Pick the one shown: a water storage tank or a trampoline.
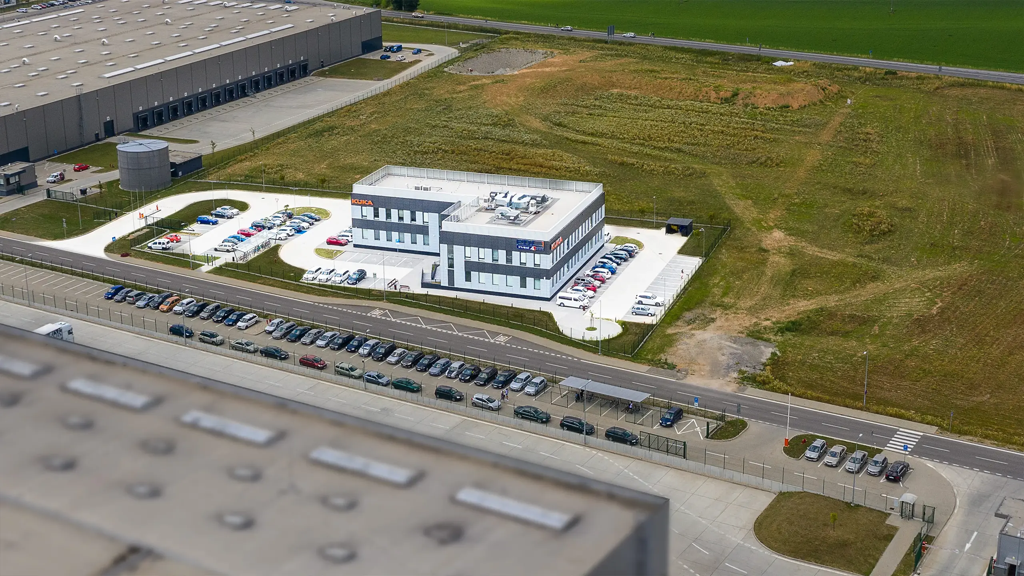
water storage tank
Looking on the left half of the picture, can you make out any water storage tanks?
Yes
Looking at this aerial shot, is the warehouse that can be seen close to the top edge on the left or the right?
left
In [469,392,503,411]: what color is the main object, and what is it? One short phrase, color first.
gray car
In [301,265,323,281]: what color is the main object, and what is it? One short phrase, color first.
white car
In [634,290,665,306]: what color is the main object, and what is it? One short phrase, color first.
white car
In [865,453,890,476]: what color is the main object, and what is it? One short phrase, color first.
gray car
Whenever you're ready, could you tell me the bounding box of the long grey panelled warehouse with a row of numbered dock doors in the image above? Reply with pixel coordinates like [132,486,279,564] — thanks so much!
[0,0,405,166]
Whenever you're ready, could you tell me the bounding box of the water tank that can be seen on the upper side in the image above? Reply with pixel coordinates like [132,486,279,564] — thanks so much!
[117,134,175,192]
